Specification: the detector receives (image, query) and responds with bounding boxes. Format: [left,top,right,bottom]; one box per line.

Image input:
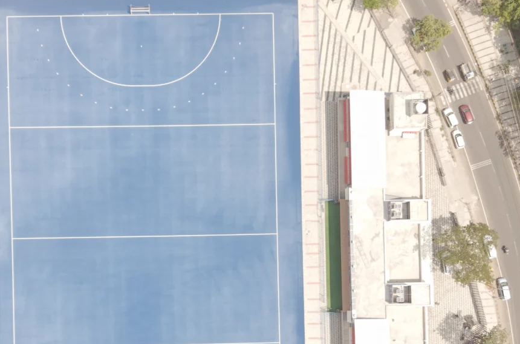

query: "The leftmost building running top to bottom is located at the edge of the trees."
[325,90,432,344]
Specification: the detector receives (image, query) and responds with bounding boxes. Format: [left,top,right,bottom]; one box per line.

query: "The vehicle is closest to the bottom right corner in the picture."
[498,277,513,301]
